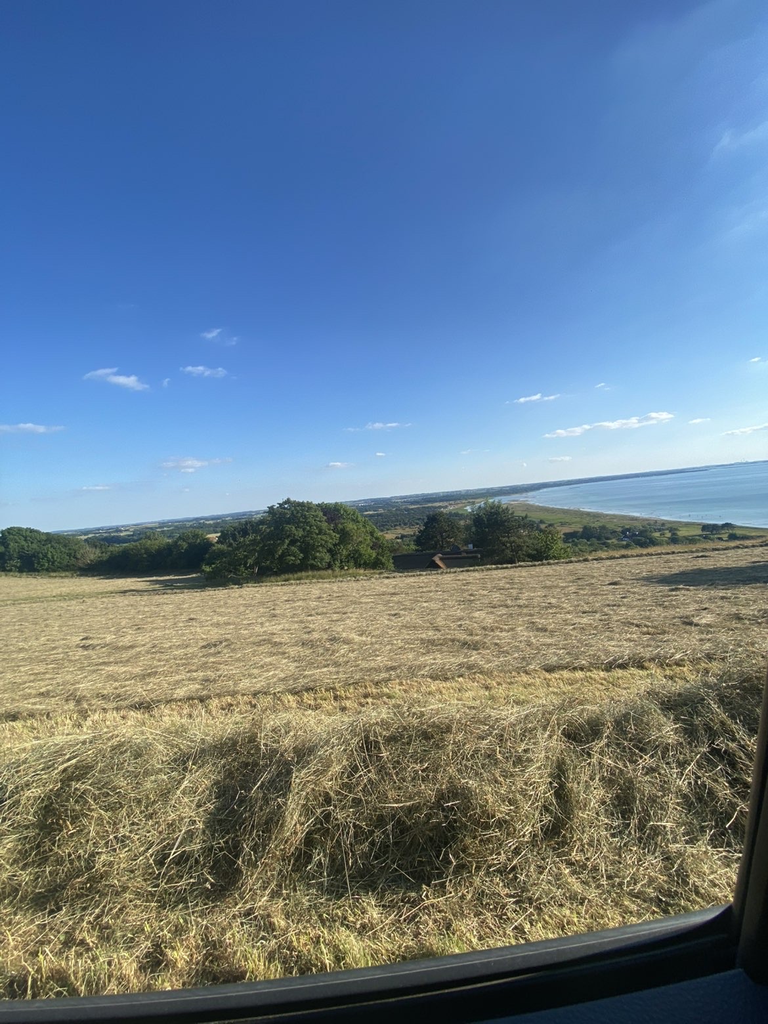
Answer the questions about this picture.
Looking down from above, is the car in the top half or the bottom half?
bottom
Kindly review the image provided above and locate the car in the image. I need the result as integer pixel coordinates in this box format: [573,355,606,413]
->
[0,644,768,1024]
